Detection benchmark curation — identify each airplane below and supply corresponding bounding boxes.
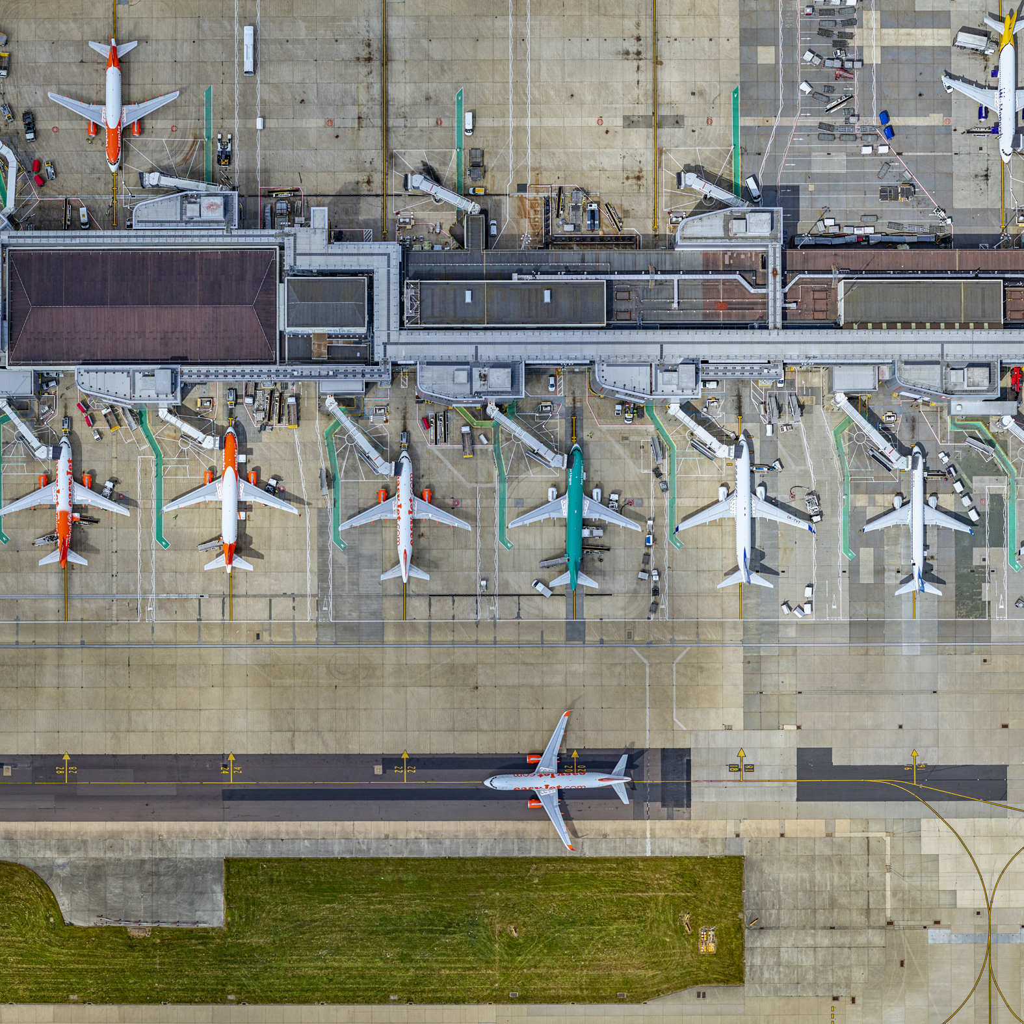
[484,714,632,856]
[941,12,1024,163]
[163,426,298,574]
[337,451,472,583]
[45,35,180,172]
[674,433,811,588]
[509,444,644,591]
[0,436,131,569]
[863,470,976,596]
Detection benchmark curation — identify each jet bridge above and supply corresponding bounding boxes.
[666,402,746,460]
[0,396,63,462]
[668,171,760,207]
[997,414,1024,442]
[484,401,579,470]
[831,392,925,471]
[132,170,232,192]
[323,394,408,477]
[397,173,481,214]
[155,405,230,452]
[0,140,19,222]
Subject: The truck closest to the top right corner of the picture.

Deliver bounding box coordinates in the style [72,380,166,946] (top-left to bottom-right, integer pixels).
[953,31,999,52]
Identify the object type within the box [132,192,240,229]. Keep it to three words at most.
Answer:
building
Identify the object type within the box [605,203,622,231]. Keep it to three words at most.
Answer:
work vehicle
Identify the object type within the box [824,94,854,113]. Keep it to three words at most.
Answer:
work vehicle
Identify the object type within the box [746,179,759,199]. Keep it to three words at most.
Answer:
vehicle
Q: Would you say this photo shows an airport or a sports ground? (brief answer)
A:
airport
